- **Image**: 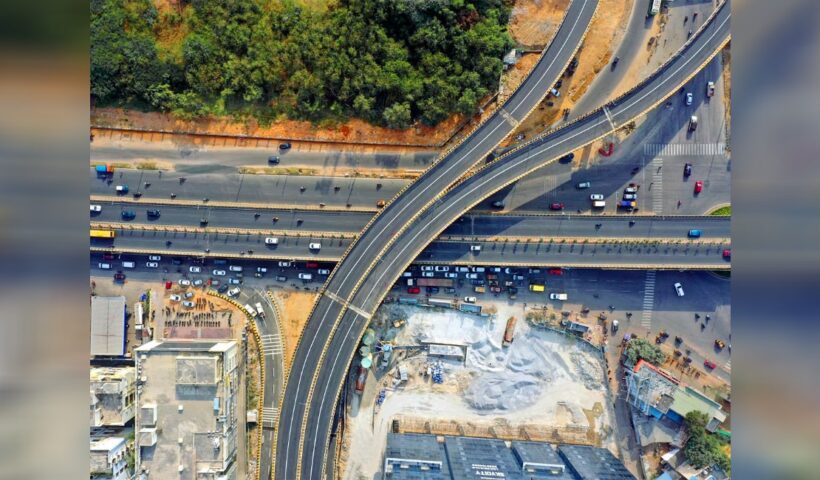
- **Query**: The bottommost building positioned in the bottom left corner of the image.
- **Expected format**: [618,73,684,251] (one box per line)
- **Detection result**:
[54,432,124,480]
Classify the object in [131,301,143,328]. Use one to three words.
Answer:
vehicle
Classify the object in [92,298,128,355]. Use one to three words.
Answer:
shed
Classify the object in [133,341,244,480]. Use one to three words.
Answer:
building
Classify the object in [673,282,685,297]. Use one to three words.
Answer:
vehicle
